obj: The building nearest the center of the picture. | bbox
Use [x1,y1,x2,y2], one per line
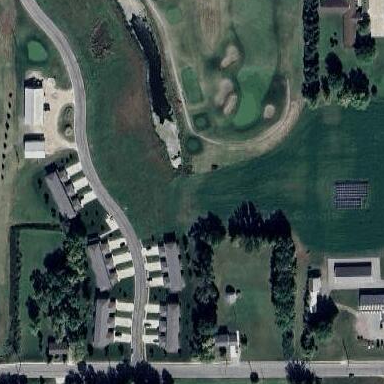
[158,242,184,291]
